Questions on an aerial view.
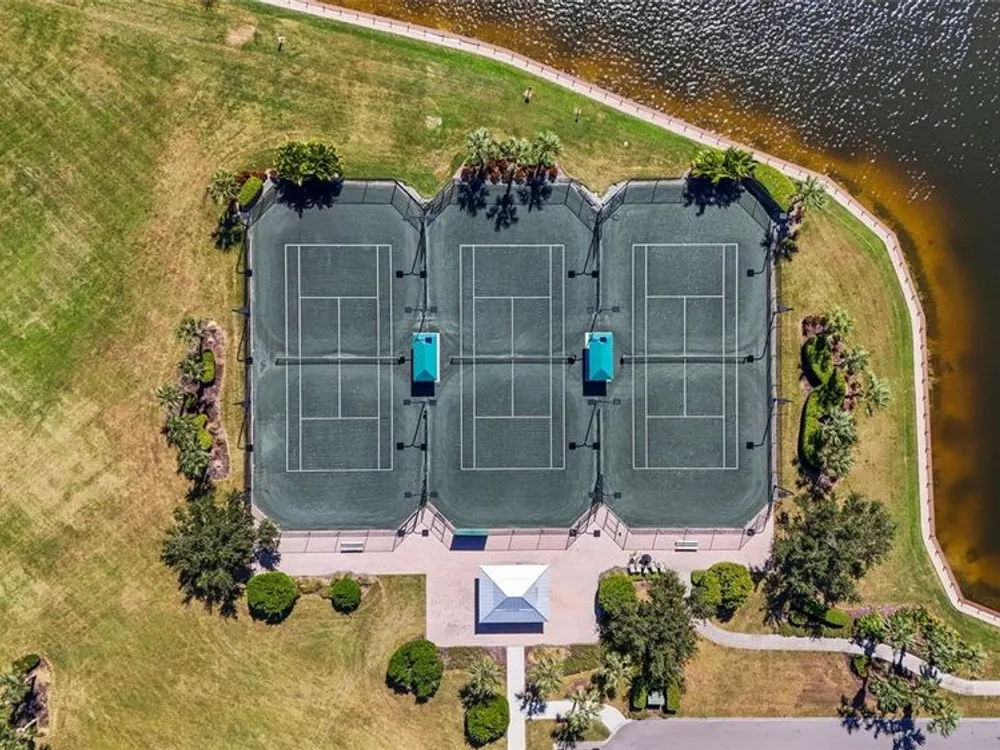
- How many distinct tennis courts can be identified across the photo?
3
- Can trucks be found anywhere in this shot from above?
No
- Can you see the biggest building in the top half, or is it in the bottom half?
bottom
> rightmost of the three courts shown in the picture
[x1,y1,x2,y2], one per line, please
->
[598,183,777,532]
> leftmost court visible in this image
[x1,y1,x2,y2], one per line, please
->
[248,183,426,532]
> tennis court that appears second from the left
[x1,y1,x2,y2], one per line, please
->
[425,183,600,532]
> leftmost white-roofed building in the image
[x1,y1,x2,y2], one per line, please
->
[478,564,550,623]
